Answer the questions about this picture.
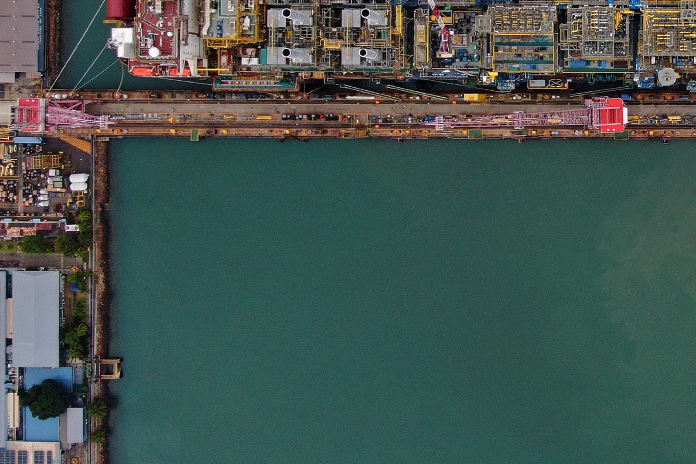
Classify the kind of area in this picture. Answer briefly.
port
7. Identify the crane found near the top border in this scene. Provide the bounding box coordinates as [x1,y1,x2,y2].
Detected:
[428,0,453,61]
